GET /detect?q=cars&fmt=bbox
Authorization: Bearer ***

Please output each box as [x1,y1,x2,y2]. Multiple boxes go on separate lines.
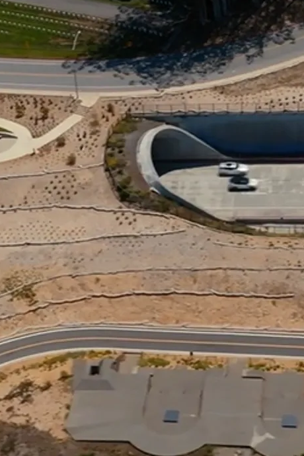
[230,177,258,191]
[218,164,247,177]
